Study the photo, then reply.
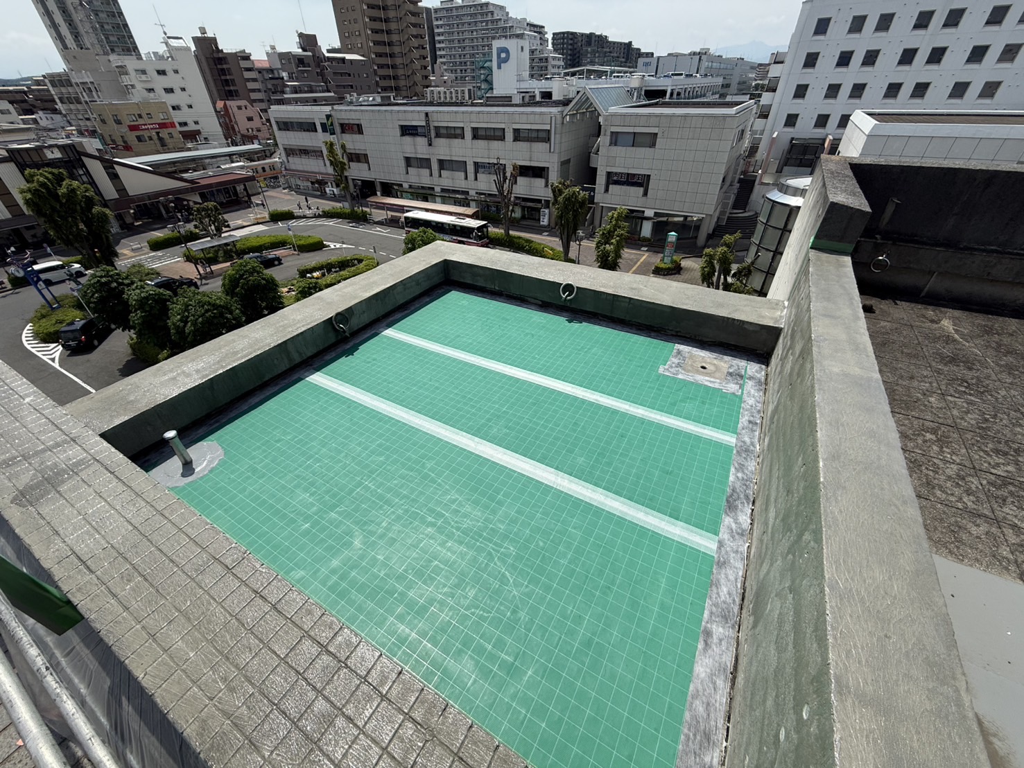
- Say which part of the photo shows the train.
top left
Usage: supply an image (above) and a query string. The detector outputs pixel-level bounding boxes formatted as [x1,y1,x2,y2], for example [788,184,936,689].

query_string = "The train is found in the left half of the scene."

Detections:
[237,158,287,178]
